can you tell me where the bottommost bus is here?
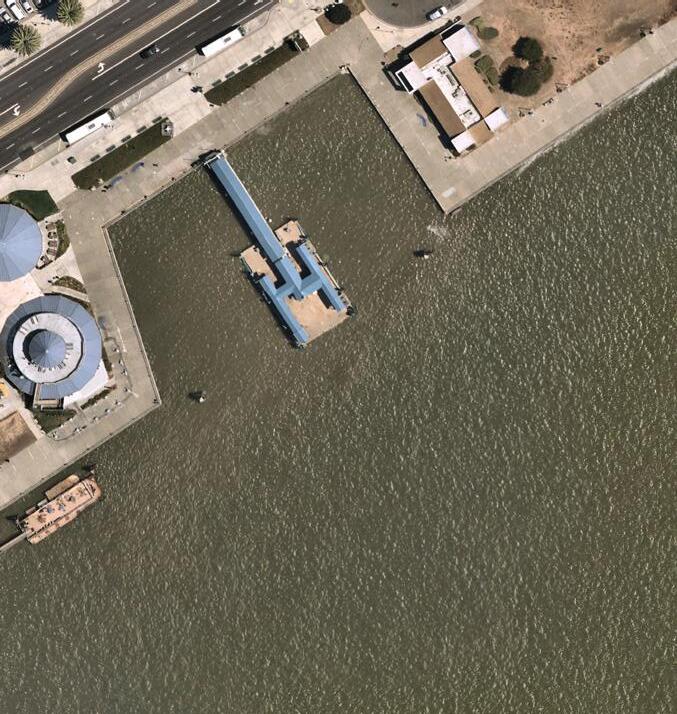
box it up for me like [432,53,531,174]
[66,109,116,144]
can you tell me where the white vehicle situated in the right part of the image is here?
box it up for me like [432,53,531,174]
[427,7,446,20]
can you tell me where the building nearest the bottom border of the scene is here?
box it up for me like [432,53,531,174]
[0,298,109,410]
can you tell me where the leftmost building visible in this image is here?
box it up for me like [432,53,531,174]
[0,203,43,281]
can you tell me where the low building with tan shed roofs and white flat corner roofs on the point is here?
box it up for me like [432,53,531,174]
[395,20,510,153]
